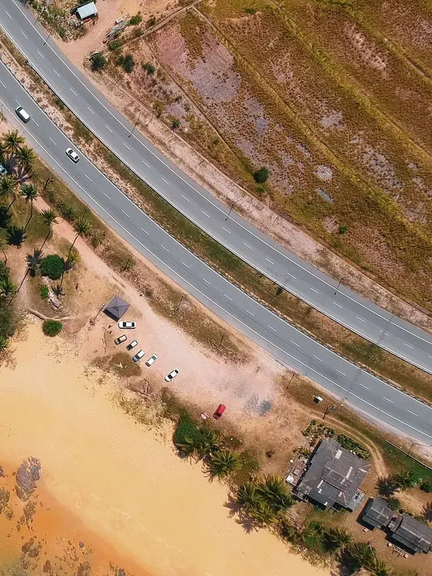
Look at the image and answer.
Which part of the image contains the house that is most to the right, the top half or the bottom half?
bottom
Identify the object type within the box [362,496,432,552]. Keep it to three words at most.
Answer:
house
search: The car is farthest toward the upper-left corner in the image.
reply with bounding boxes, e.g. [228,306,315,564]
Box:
[15,104,30,123]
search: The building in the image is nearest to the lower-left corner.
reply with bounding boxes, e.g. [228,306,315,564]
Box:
[105,295,130,319]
